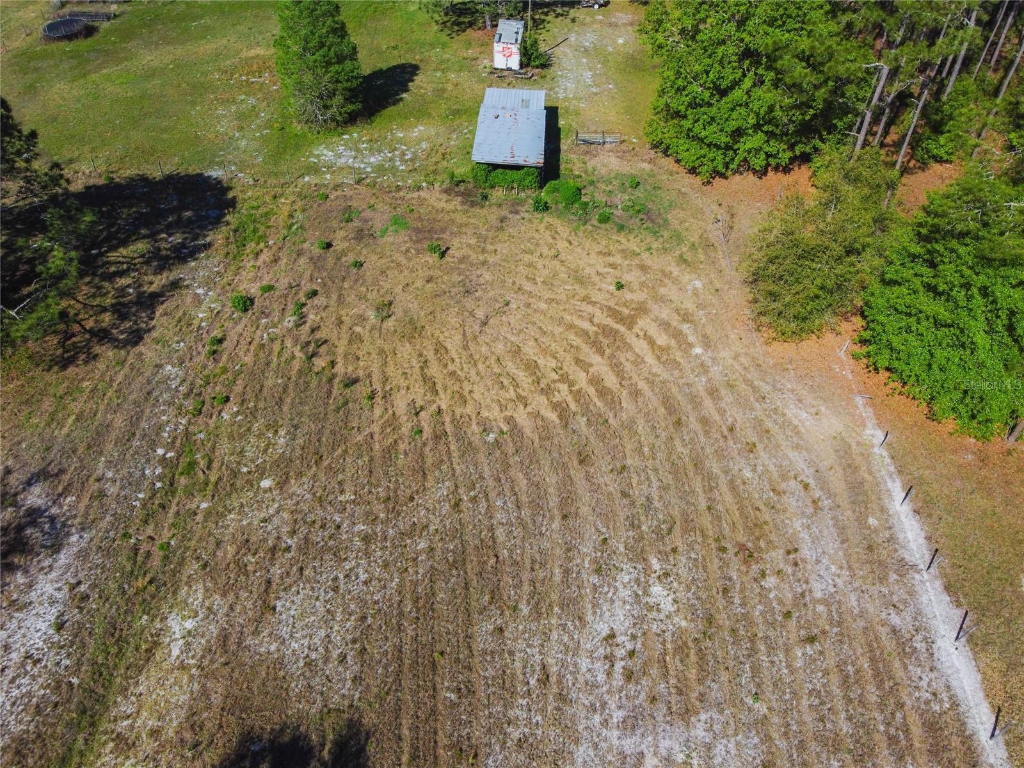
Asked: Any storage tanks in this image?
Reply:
No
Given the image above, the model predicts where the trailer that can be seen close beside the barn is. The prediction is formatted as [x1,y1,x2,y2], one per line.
[493,19,523,66]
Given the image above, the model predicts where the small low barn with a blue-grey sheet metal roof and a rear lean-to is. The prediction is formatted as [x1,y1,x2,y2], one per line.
[472,88,545,190]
